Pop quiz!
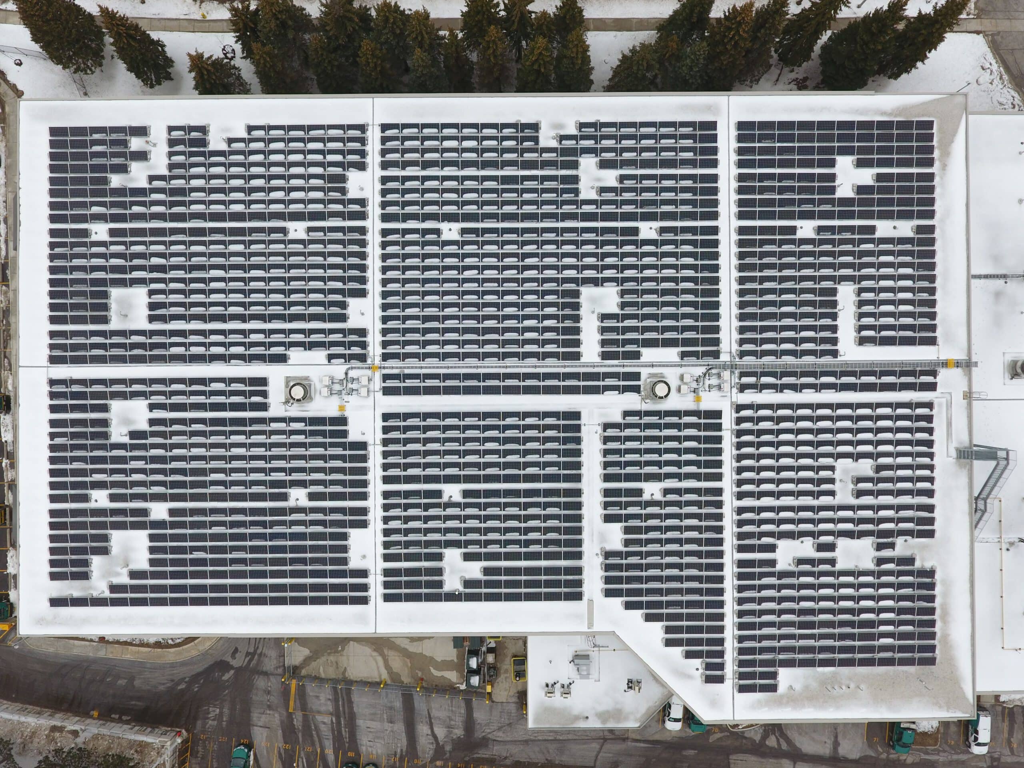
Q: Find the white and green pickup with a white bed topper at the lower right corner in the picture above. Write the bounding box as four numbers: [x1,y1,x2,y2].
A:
[967,699,994,755]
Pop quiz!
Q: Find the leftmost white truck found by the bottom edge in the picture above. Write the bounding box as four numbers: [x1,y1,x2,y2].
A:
[665,695,686,731]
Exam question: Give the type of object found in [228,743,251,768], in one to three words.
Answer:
car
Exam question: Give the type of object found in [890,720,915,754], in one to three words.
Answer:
truck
